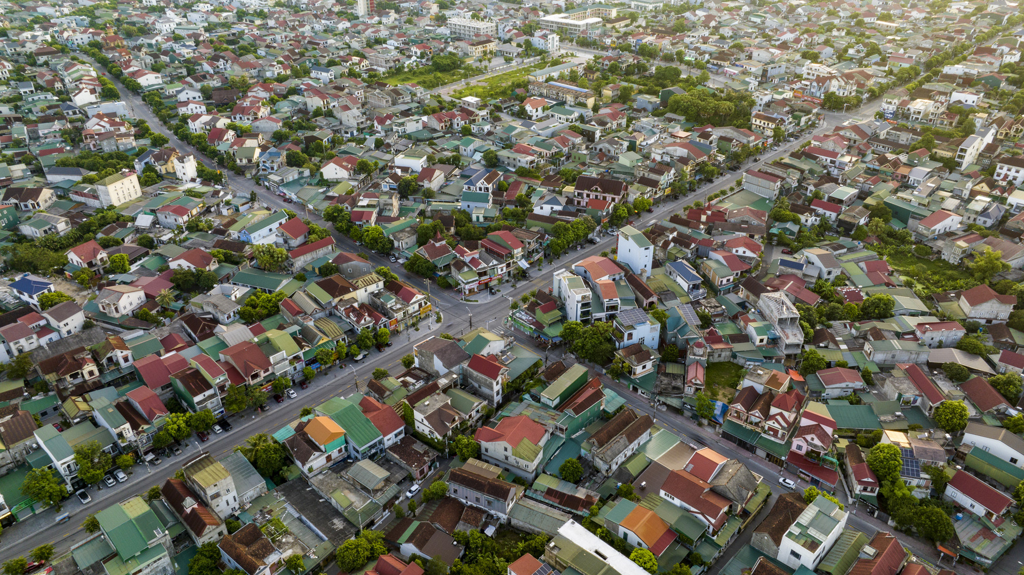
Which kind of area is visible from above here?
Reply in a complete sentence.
It's a residential area.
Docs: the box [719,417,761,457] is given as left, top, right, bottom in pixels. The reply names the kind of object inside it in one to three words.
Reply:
shed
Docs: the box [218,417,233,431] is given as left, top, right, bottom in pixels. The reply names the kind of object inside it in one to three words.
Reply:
car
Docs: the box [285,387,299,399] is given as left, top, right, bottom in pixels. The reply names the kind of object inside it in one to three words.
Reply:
vehicle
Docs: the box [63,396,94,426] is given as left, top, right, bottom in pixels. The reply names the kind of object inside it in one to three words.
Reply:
house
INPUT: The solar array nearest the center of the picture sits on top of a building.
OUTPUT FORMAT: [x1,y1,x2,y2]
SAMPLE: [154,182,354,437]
[616,308,649,326]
